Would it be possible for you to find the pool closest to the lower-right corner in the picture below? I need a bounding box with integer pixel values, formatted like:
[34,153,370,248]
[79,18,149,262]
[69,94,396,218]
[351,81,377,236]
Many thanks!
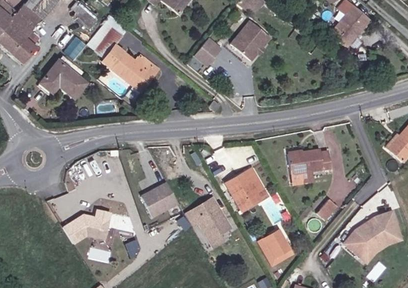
[308,217,323,232]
